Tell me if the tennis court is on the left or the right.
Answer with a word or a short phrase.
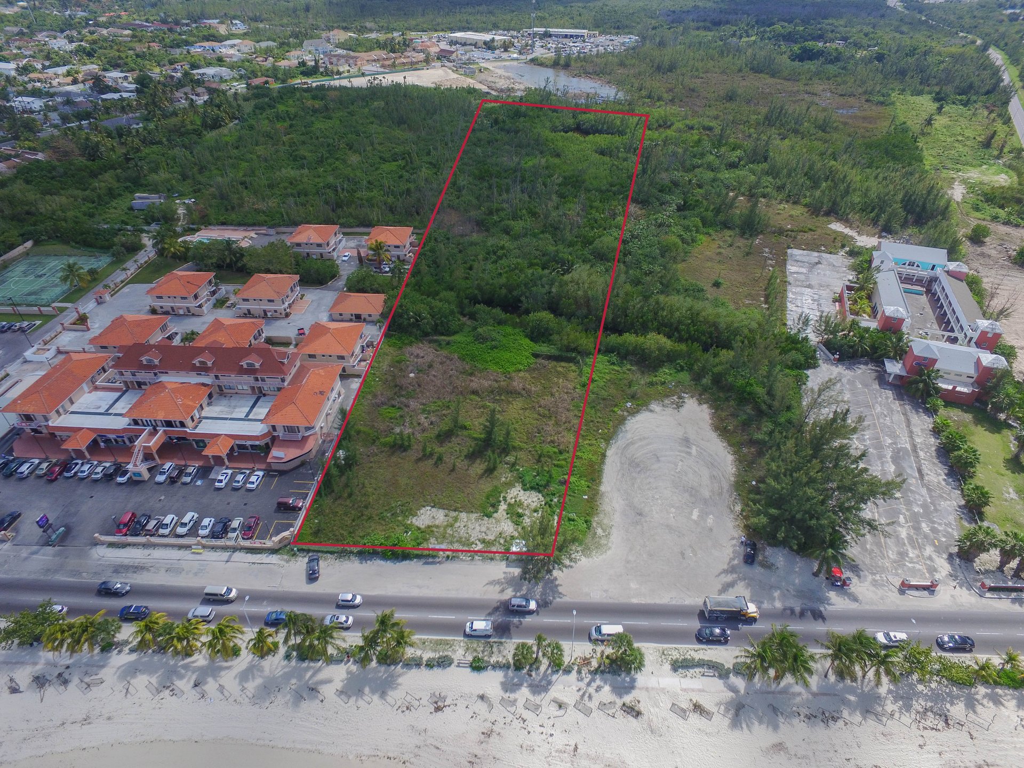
left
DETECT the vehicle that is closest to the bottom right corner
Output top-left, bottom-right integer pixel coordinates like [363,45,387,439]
[935,631,979,650]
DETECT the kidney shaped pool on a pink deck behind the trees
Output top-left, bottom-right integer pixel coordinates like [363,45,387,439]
[179,230,267,246]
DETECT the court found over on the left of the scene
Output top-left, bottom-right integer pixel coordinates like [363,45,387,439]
[0,255,113,304]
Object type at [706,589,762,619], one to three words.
truck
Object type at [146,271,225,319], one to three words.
house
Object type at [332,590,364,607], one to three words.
car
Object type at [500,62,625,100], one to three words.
pond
